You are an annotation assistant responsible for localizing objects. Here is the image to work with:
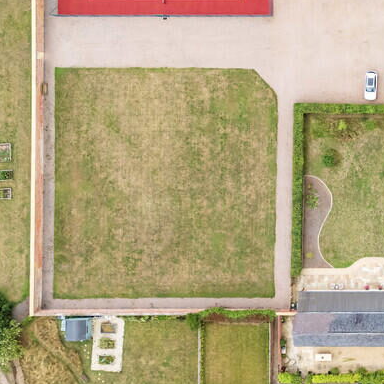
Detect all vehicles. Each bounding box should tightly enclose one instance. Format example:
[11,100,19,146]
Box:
[365,71,377,100]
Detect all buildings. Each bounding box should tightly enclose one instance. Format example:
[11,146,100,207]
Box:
[293,286,384,347]
[65,316,93,340]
